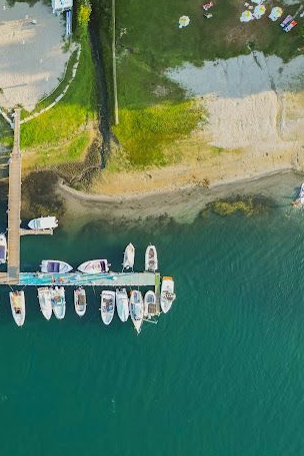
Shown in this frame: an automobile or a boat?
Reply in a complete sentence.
It is a boat that can be seen here.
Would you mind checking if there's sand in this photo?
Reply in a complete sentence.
Yes, the picture does contain sand.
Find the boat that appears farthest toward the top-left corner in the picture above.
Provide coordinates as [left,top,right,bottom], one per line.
[26,215,59,230]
